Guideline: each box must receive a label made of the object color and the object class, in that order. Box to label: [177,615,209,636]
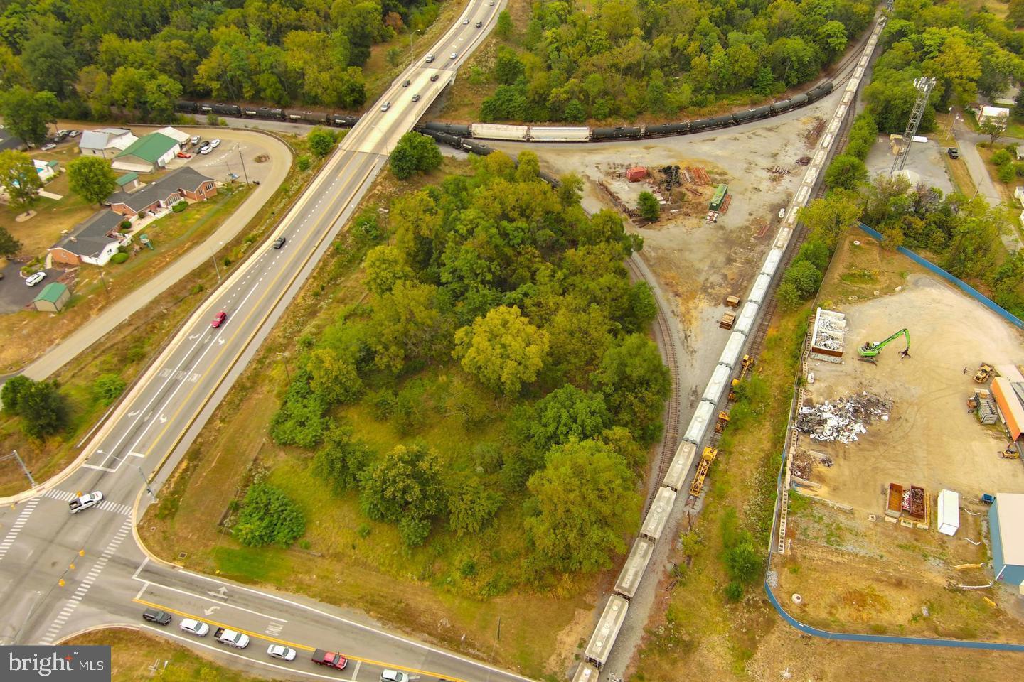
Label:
white car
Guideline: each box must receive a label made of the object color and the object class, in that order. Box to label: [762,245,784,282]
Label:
white rail car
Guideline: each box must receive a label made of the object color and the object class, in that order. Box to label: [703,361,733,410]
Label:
white rail car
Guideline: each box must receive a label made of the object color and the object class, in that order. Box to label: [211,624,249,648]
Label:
white truck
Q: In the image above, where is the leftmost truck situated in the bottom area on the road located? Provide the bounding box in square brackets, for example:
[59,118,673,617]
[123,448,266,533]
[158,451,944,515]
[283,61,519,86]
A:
[66,490,102,512]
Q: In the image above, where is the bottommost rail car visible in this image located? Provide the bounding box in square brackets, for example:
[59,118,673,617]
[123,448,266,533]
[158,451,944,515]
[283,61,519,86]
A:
[571,658,600,682]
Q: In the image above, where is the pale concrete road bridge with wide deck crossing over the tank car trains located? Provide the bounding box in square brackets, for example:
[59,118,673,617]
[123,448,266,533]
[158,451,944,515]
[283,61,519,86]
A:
[334,63,461,156]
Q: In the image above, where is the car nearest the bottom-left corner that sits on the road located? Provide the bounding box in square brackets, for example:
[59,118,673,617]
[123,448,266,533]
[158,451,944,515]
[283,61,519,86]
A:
[139,605,171,625]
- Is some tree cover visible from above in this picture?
Yes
